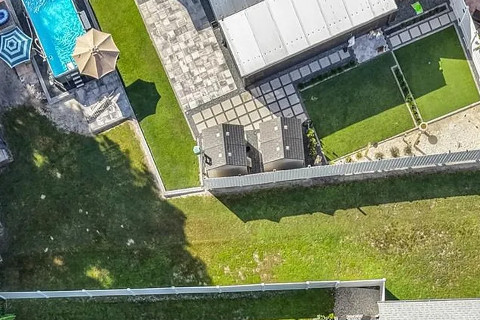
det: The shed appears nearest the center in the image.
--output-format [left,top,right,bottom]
[203,124,247,178]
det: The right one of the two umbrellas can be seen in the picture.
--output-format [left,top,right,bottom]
[72,31,121,80]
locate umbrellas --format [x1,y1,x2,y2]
[72,31,121,80]
[0,30,33,69]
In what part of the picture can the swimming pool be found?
top left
